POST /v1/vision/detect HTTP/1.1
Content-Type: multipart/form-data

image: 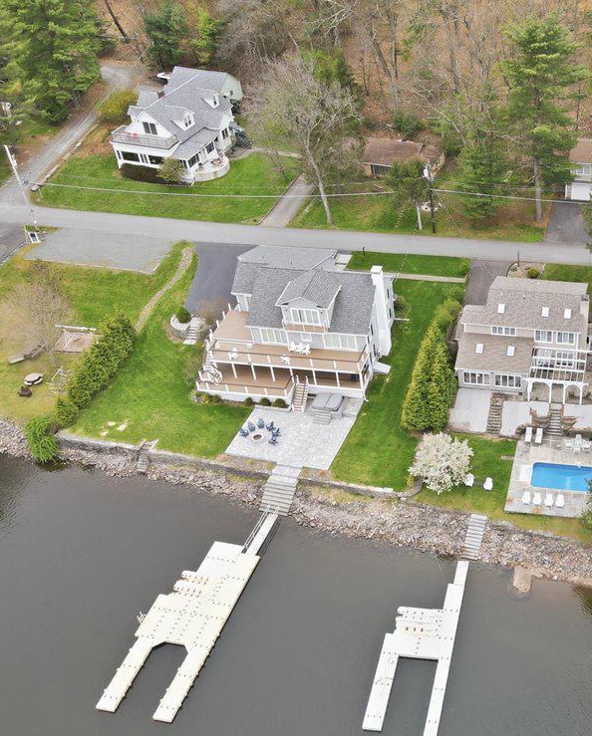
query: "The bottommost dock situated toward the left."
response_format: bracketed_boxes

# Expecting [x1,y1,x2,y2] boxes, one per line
[97,542,262,725]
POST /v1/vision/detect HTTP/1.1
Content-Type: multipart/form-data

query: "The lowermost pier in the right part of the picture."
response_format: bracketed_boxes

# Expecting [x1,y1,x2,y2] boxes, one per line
[363,584,464,736]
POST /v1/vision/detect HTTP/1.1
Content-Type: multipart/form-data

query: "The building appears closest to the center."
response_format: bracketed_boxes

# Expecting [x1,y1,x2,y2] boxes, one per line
[191,247,398,409]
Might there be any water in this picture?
Yes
